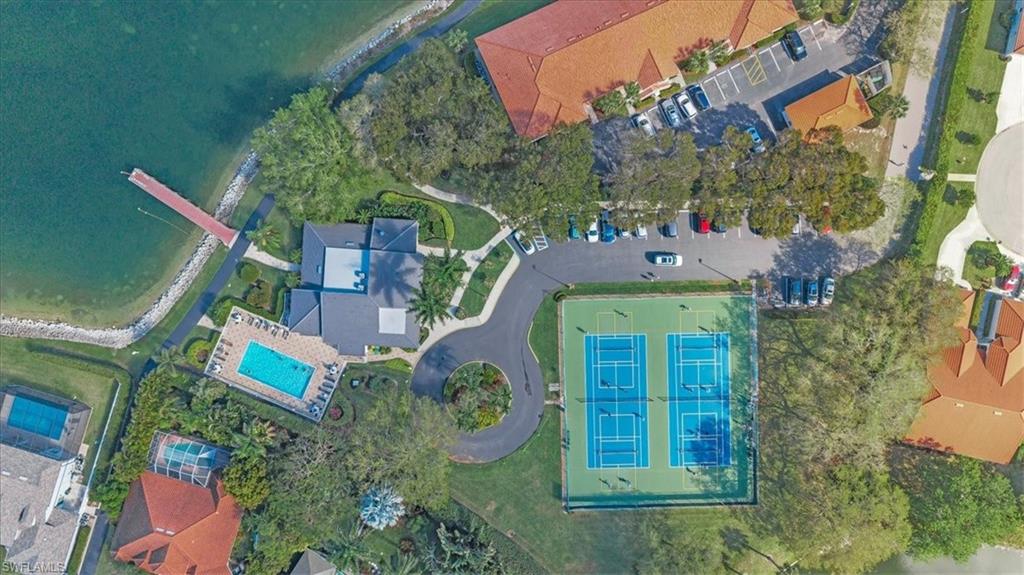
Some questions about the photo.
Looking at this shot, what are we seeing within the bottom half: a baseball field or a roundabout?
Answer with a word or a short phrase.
roundabout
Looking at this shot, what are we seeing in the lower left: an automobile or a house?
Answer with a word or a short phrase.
house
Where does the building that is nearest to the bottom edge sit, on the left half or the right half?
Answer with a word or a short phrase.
left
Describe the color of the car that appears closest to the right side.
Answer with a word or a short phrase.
red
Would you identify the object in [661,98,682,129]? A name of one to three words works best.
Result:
car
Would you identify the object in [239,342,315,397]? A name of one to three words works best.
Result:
swimming pool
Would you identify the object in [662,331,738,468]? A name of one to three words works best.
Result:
tennis court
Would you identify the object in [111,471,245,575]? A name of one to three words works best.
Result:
house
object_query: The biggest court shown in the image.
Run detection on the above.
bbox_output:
[563,296,753,506]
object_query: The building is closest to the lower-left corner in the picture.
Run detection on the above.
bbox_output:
[0,441,86,575]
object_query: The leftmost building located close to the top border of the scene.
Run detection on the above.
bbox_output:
[474,0,799,139]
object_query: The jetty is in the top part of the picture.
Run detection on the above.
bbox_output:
[120,168,238,247]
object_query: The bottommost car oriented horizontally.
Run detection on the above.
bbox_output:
[653,253,681,266]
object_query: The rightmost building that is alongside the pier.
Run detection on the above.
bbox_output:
[279,218,423,359]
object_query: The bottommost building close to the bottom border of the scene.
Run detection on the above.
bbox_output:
[288,544,339,575]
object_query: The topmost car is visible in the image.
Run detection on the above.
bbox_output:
[784,30,805,60]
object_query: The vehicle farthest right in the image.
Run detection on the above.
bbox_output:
[1000,266,1020,293]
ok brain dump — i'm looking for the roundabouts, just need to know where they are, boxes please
[443,361,512,430]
